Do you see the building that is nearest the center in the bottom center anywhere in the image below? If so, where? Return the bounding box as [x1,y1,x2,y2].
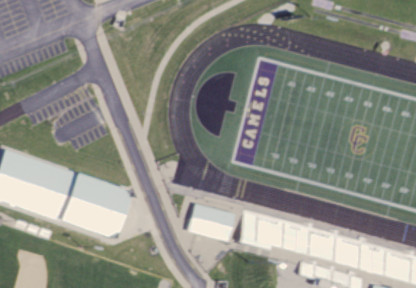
[184,204,236,242]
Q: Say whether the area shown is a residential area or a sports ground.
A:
sports ground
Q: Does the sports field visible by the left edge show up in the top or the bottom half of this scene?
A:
bottom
